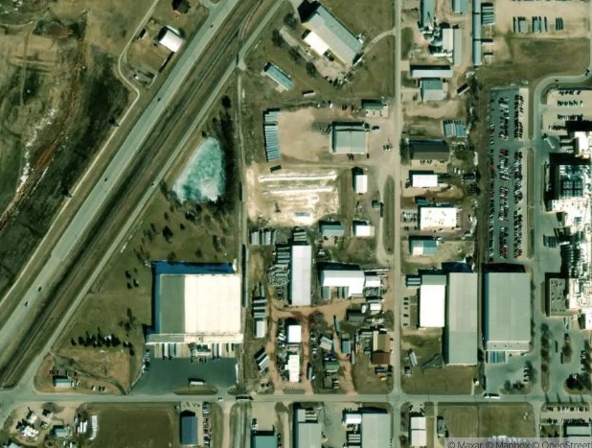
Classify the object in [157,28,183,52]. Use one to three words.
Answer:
building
